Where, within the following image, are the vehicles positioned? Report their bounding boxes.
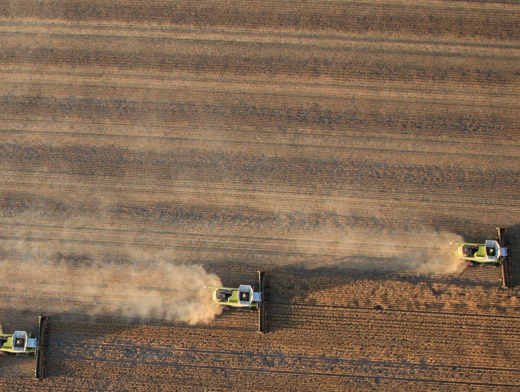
[447,226,515,288]
[203,270,270,333]
[0,316,51,379]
